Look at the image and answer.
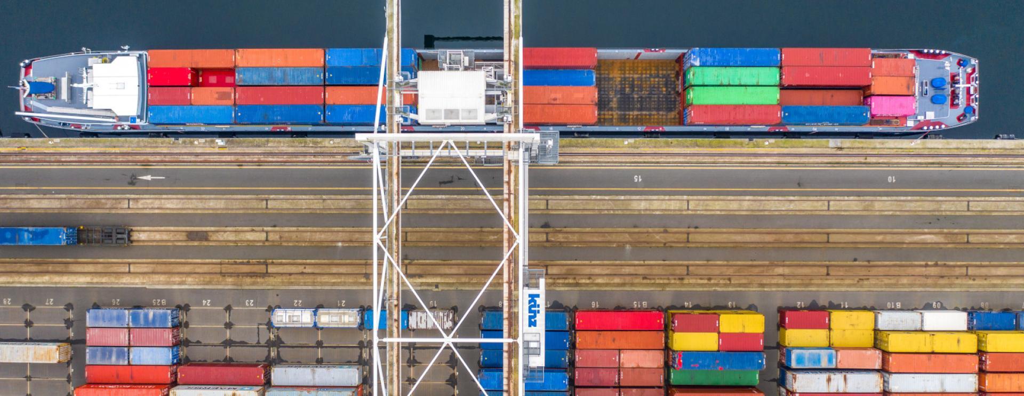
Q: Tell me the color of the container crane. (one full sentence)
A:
The container crane is white.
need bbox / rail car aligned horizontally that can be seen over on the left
[73,228,134,246]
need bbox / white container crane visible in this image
[356,0,560,396]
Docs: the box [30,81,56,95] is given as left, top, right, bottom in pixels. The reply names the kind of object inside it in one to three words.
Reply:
boat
